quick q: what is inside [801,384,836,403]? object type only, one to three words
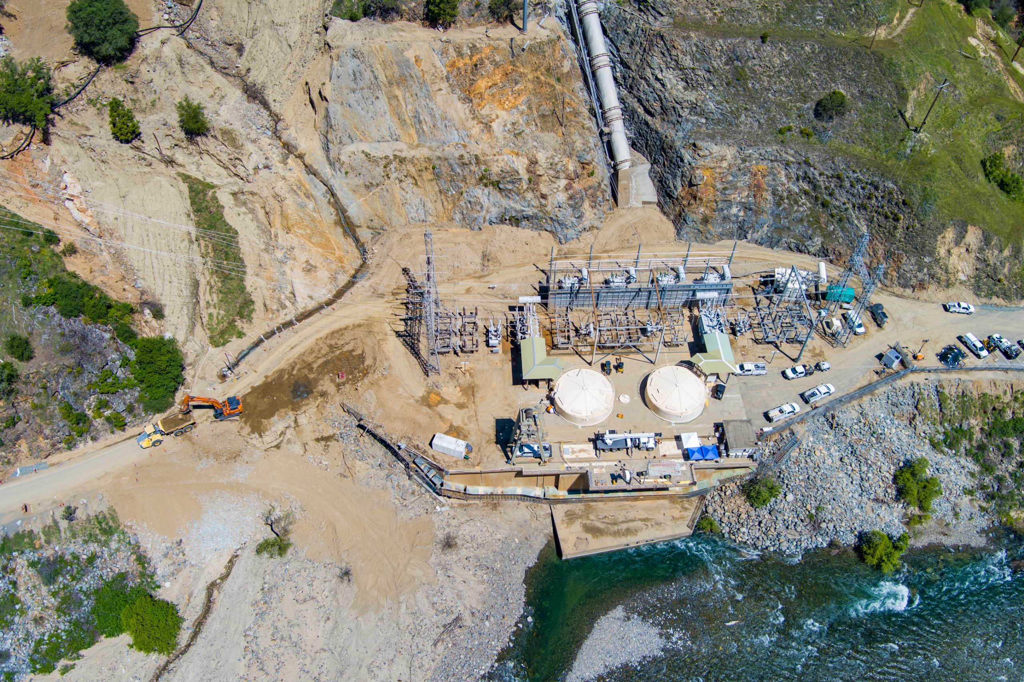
vehicle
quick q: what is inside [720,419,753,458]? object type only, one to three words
building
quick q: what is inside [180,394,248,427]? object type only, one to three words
work vehicle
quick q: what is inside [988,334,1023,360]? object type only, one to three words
truck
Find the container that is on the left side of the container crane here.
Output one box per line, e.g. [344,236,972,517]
[431,431,475,464]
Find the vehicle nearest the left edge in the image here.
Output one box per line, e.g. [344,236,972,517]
[137,412,197,449]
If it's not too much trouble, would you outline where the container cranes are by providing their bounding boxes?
[508,404,548,463]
